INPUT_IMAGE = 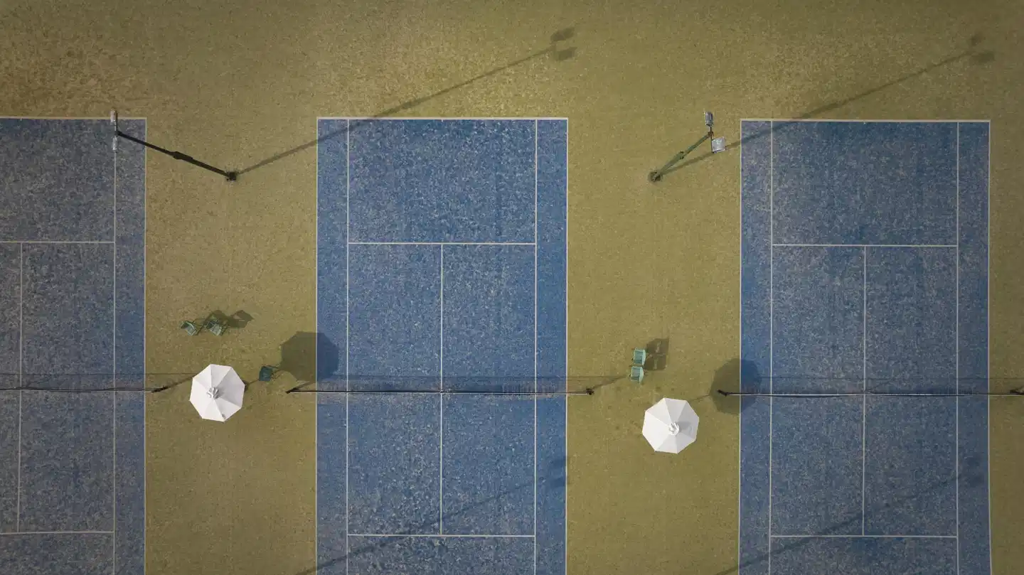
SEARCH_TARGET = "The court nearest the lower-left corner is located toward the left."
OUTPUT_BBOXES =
[0,116,146,575]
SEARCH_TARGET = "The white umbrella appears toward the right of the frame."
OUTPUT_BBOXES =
[643,398,699,453]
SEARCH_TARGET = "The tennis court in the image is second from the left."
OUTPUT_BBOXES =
[316,117,568,575]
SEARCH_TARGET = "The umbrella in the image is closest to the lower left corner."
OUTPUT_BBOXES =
[190,365,245,420]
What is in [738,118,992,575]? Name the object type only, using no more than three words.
tennis court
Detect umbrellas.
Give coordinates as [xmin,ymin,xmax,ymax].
[190,365,245,420]
[643,398,699,453]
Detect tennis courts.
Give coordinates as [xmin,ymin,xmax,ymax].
[738,118,992,575]
[316,117,568,575]
[0,116,146,575]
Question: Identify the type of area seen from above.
sports ground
